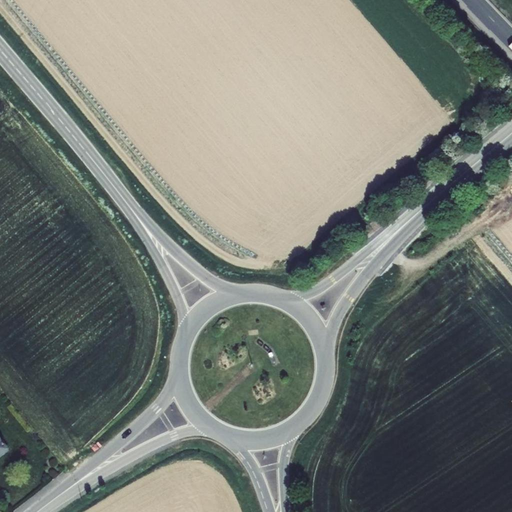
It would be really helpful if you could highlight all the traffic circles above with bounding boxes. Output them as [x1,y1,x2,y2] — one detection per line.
[168,282,336,450]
